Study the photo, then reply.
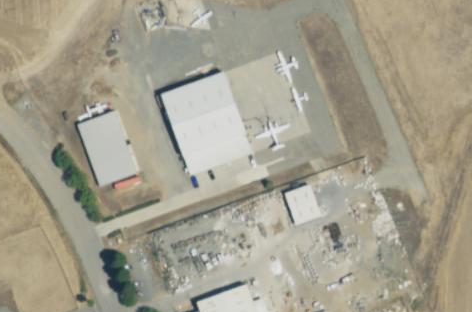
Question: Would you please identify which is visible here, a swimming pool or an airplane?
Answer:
airplane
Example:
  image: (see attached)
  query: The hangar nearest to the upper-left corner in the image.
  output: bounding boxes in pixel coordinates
[78,110,139,186]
